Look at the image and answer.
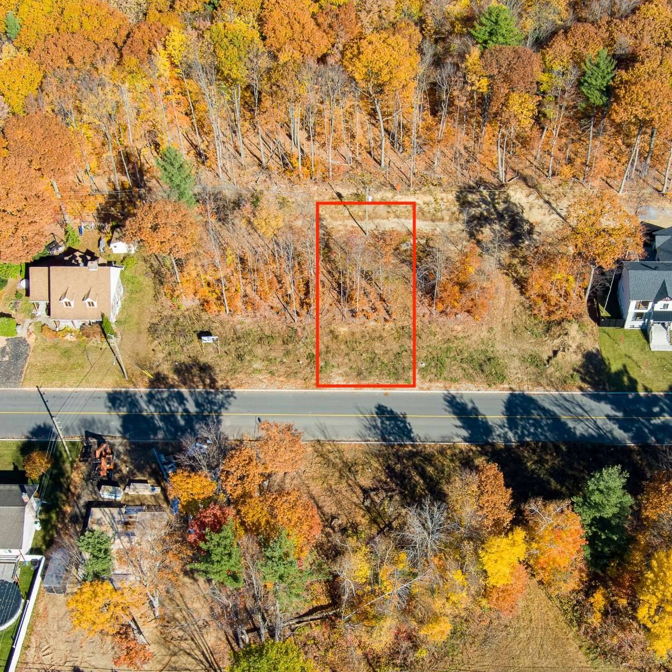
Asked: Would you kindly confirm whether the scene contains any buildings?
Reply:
Yes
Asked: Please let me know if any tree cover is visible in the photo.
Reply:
Yes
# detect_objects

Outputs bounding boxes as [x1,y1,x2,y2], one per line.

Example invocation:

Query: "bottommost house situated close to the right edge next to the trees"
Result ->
[616,261,672,352]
